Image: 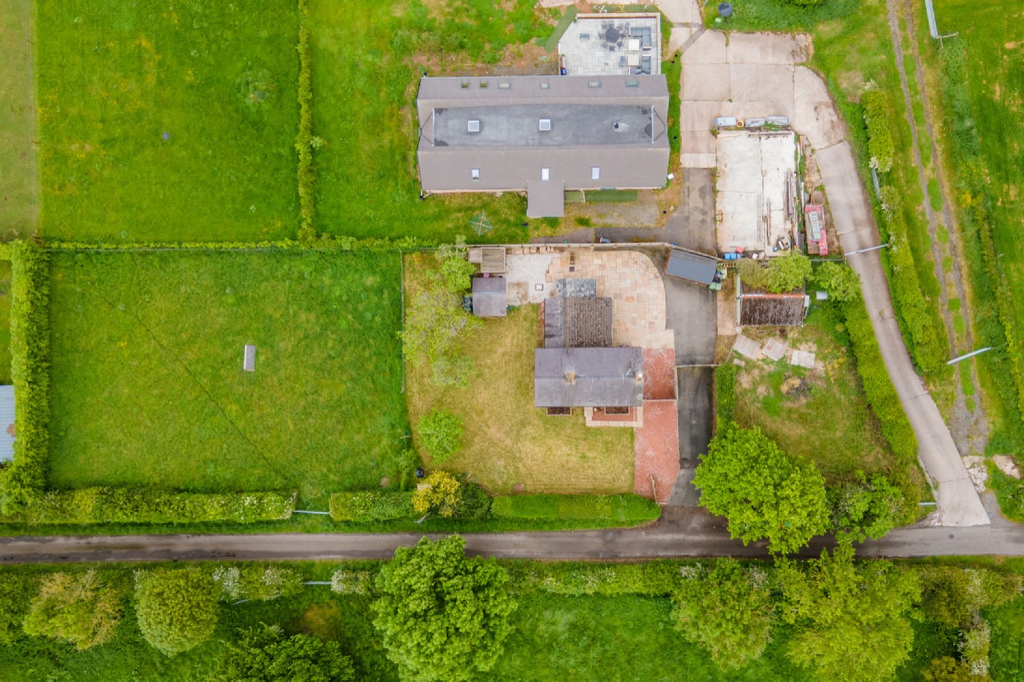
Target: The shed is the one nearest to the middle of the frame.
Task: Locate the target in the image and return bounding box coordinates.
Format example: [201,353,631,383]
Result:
[472,277,506,317]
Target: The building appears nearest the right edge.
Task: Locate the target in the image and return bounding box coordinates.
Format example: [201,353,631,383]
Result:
[730,277,810,327]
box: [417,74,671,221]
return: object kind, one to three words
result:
house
